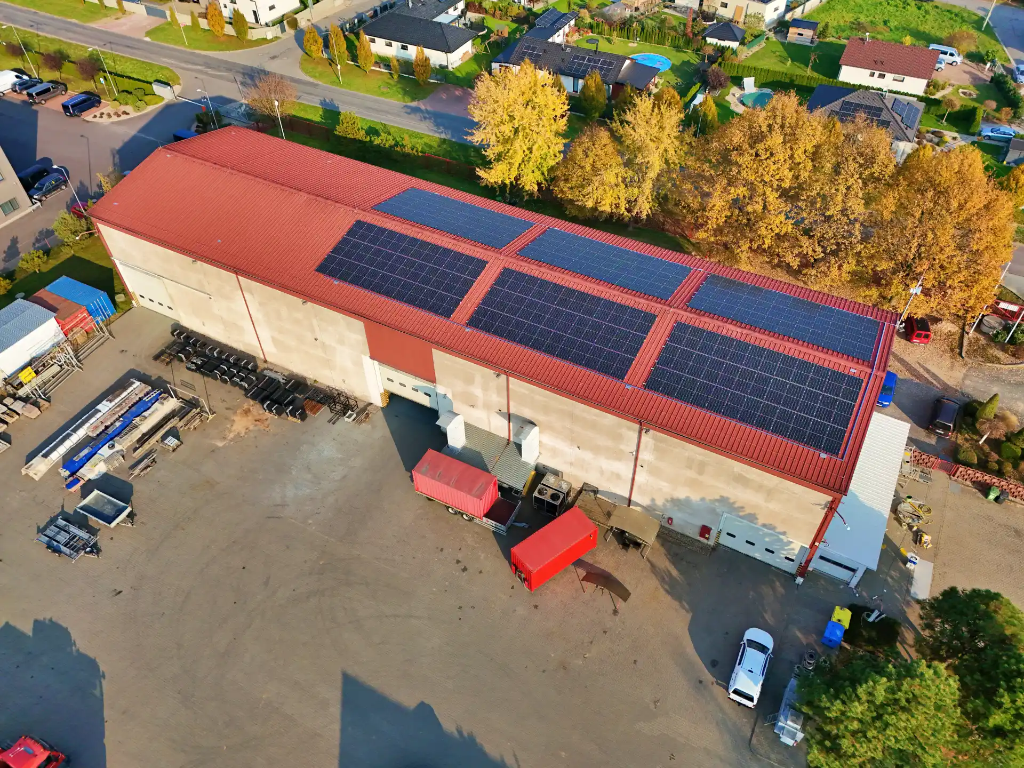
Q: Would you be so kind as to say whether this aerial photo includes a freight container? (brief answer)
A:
Yes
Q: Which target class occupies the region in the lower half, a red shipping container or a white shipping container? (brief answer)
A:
red shipping container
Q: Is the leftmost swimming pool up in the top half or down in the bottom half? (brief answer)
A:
top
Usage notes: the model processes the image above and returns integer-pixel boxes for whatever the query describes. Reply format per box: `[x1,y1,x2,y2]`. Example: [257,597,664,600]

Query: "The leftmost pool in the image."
[631,53,671,73]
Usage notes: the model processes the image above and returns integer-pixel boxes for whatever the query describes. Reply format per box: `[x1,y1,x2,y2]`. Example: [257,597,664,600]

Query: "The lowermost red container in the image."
[513,507,598,593]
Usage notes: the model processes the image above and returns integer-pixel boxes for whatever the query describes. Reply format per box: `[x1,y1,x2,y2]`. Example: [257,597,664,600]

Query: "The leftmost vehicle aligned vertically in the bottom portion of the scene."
[732,626,773,711]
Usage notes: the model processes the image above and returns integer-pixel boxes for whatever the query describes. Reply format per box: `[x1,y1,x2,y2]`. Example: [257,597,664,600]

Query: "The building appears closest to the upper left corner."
[0,168,39,228]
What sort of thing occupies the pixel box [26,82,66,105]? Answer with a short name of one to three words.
vehicle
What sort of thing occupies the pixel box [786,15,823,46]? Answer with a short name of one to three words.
shed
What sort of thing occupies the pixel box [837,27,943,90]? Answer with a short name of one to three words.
house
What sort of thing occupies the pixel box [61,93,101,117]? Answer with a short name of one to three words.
vehicle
